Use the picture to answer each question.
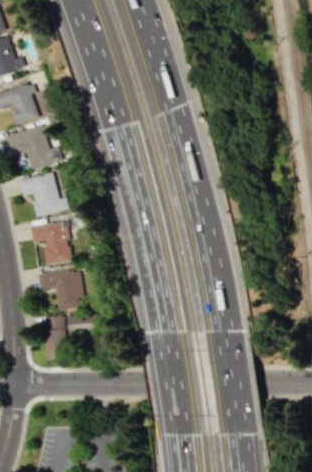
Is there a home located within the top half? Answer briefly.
Yes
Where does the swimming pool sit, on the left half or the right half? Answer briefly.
left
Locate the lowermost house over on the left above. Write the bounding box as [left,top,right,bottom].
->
[46,316,66,360]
